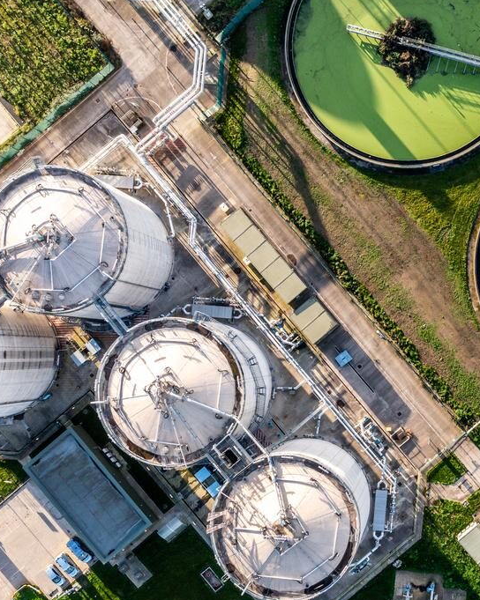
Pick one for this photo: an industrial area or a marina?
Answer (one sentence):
The area seen from above is an industrial area.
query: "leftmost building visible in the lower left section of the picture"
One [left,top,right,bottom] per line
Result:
[23,427,160,564]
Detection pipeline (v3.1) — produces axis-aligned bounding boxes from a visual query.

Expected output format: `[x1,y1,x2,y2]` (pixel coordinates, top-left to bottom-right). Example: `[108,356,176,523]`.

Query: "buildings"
[23,427,160,564]
[221,207,309,303]
[456,518,480,566]
[290,296,341,343]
